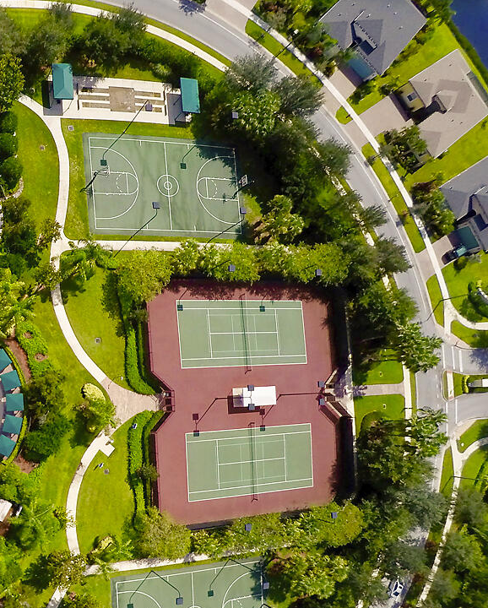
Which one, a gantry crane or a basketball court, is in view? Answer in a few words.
basketball court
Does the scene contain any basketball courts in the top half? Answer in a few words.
Yes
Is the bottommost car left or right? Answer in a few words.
right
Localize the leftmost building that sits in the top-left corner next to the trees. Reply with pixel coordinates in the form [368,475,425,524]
[50,63,73,106]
